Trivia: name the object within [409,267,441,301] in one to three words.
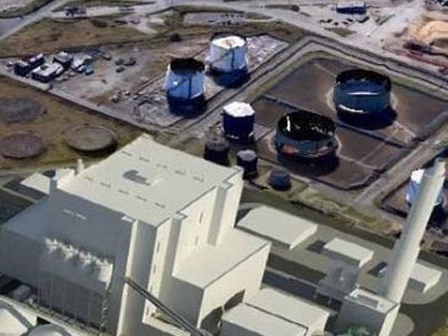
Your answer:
building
